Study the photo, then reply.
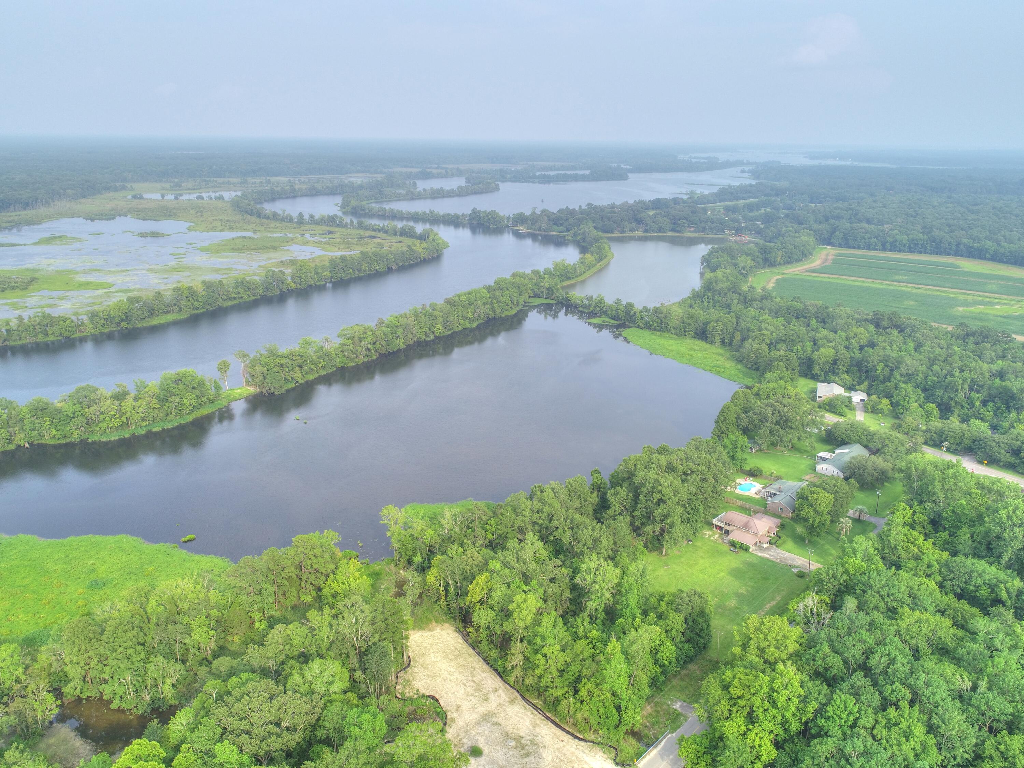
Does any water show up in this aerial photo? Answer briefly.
Yes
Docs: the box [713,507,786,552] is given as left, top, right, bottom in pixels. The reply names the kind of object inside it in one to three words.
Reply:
house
